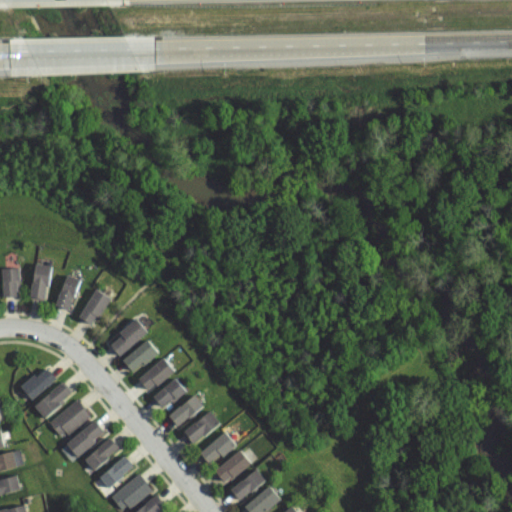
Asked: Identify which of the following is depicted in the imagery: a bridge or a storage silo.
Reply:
bridge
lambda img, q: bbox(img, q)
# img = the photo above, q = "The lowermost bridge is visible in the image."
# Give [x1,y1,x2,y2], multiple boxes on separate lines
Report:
[10,36,156,76]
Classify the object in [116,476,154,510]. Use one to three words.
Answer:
house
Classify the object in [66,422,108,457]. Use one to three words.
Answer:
house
